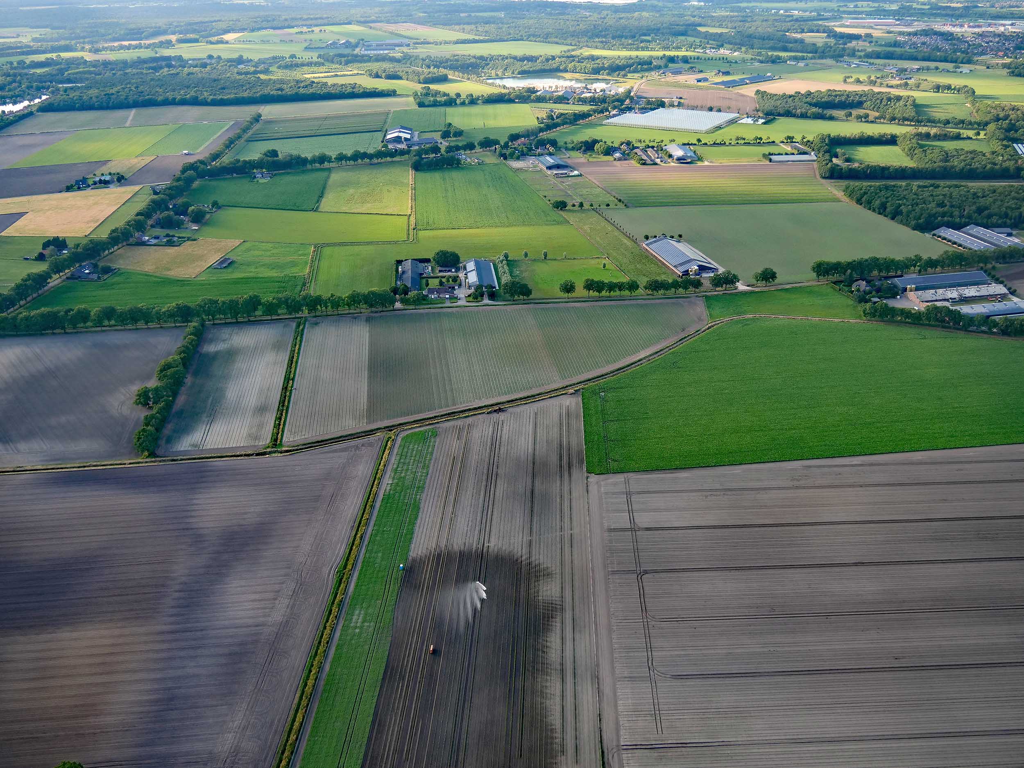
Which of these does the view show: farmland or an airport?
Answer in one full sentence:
What you see here is farmland.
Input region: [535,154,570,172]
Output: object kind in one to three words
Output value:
barn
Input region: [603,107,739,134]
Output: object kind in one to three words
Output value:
greenhouse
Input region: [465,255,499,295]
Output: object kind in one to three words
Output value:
barn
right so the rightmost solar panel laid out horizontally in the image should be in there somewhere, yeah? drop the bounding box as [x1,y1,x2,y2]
[899,271,989,286]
